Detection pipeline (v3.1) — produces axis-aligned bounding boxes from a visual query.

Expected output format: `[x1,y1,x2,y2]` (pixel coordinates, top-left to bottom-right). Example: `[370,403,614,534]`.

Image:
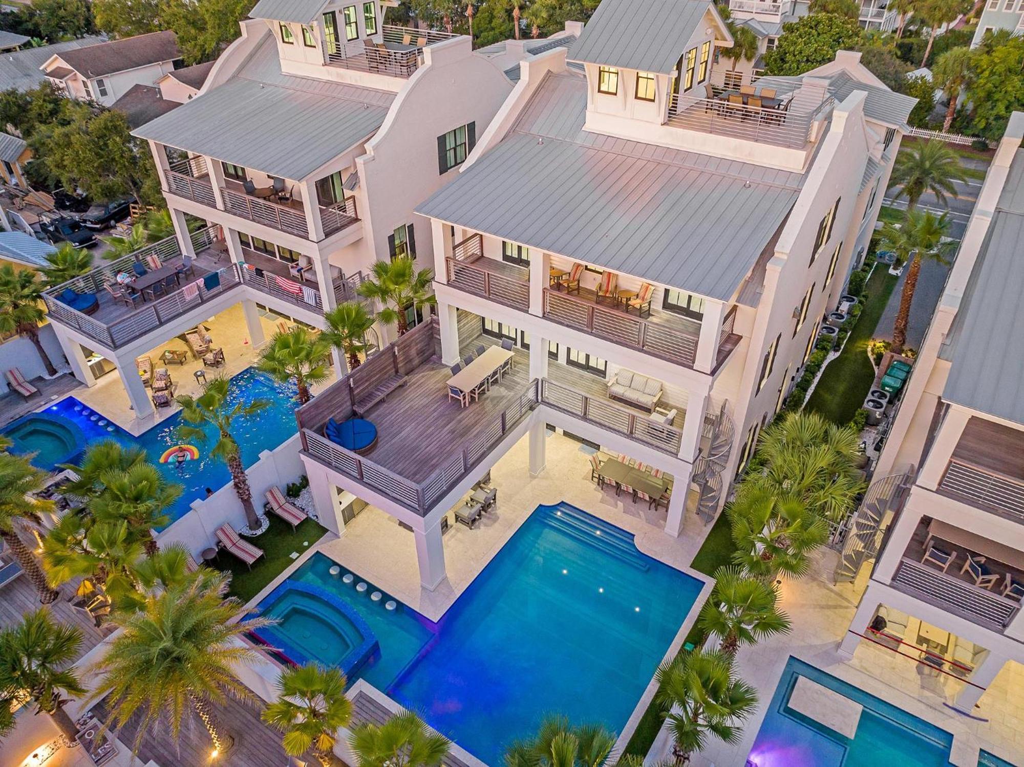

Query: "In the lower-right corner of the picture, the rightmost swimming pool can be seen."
[743,653,963,767]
